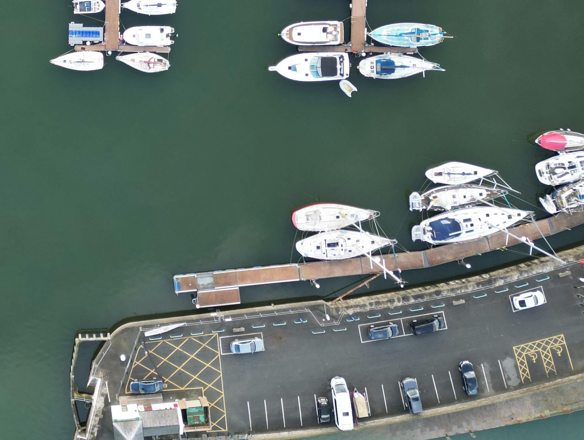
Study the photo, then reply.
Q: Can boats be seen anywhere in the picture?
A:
Yes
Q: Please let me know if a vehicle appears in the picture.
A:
Yes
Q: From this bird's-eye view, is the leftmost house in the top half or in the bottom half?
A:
bottom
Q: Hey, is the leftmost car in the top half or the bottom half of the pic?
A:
bottom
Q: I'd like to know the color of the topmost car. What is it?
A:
white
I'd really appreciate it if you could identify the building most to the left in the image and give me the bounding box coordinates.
[111,401,184,440]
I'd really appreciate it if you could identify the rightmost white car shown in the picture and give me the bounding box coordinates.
[510,288,546,310]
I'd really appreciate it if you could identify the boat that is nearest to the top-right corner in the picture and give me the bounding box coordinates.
[532,130,584,152]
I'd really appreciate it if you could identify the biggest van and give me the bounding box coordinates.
[328,374,358,437]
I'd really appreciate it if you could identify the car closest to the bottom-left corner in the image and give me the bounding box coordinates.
[129,375,164,395]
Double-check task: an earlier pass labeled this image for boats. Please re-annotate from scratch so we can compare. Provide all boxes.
[292,203,379,241]
[551,180,584,214]
[295,230,404,283]
[419,207,568,266]
[540,195,558,215]
[280,22,343,46]
[408,225,421,244]
[120,0,178,14]
[358,53,447,77]
[341,80,358,99]
[269,53,350,81]
[123,27,180,45]
[532,130,584,152]
[49,50,105,70]
[423,163,521,194]
[368,23,455,46]
[533,152,584,186]
[405,192,421,212]
[420,186,517,217]
[115,51,171,72]
[70,0,106,14]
